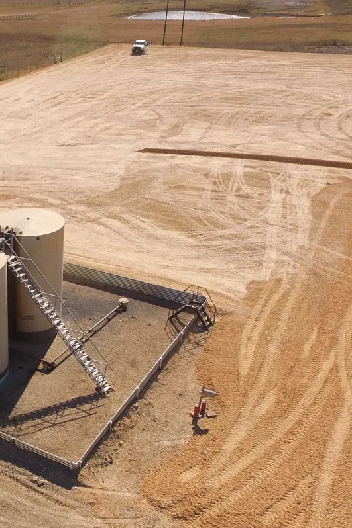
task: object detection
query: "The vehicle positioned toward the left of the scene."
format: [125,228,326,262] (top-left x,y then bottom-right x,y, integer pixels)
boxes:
[129,38,149,54]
